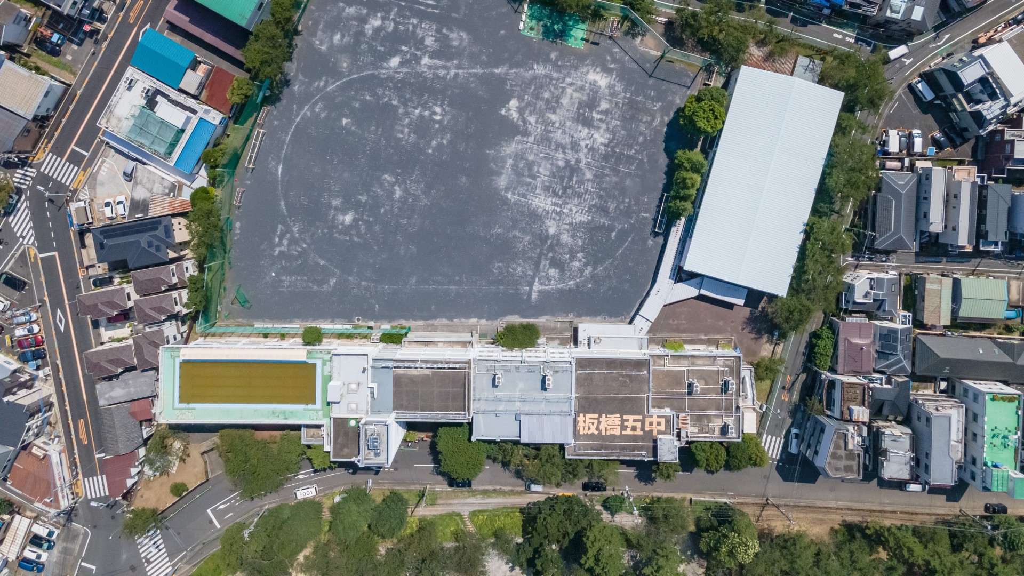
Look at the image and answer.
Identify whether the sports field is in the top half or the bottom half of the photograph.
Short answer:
top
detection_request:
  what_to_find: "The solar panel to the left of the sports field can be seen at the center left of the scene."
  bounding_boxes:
[100,220,171,251]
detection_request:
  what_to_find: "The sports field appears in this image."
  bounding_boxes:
[221,0,716,321]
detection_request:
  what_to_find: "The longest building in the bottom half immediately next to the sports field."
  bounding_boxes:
[160,320,757,467]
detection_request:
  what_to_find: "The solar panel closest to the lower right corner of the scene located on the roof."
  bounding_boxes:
[878,330,911,361]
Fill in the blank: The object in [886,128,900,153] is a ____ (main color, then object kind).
white vehicle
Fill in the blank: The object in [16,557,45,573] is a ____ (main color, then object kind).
blue car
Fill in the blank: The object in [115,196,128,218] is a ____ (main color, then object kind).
white vehicle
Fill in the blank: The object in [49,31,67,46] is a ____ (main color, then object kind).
blue vehicle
